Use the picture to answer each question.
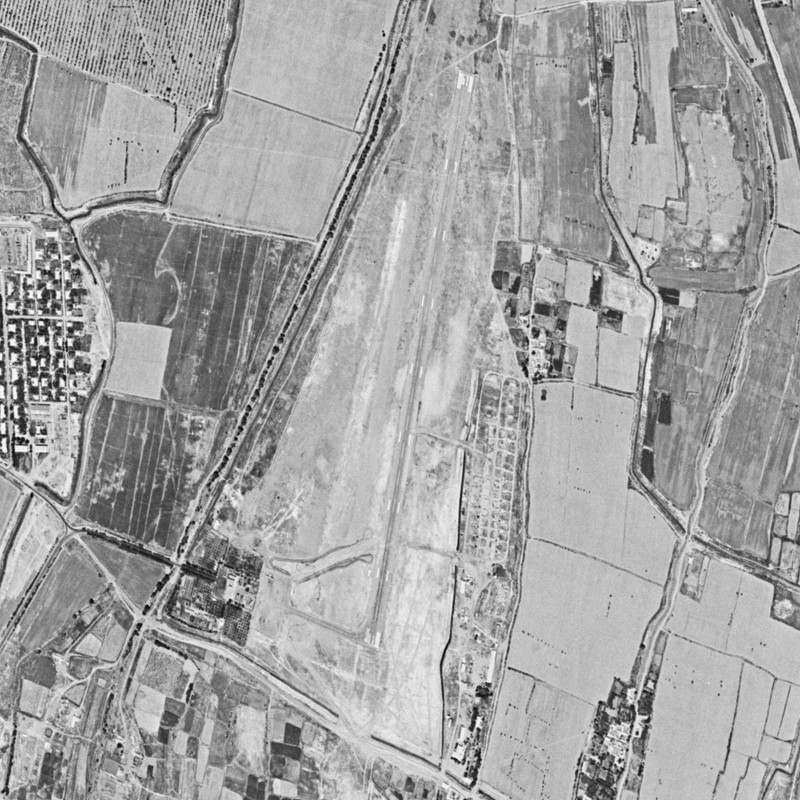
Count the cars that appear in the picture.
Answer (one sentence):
The picture shows no cars.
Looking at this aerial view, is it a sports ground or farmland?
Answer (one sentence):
The area seen from above is farmland.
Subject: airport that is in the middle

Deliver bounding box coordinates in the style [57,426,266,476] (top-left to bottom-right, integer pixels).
[243,0,521,753]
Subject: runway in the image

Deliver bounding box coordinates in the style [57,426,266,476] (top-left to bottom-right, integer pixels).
[364,71,475,648]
